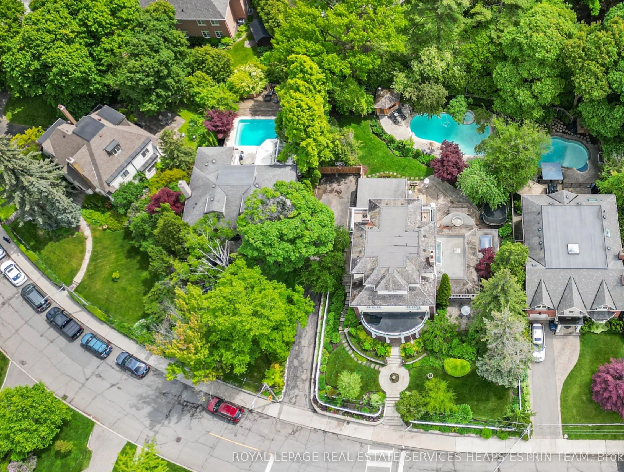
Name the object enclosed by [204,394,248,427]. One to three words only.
car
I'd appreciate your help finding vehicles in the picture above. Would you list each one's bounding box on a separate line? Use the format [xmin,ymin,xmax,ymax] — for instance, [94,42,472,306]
[19,281,55,314]
[43,304,86,344]
[528,322,549,365]
[204,394,248,427]
[0,257,31,290]
[77,331,116,364]
[113,349,154,383]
